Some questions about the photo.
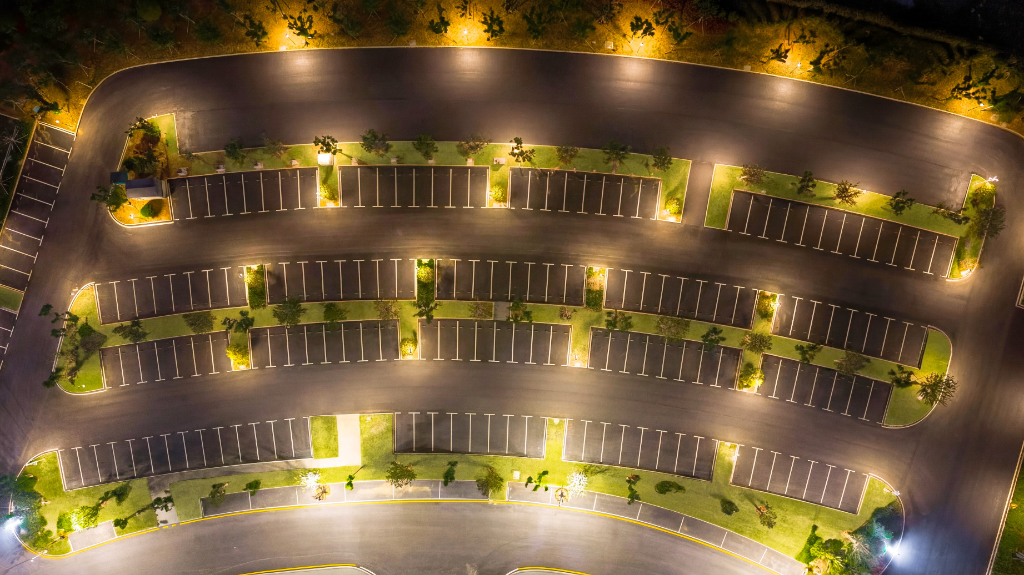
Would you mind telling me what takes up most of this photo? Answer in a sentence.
Most of the picture is covered by paved ground.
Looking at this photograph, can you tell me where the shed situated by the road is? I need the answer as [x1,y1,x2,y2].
[121,174,173,203]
